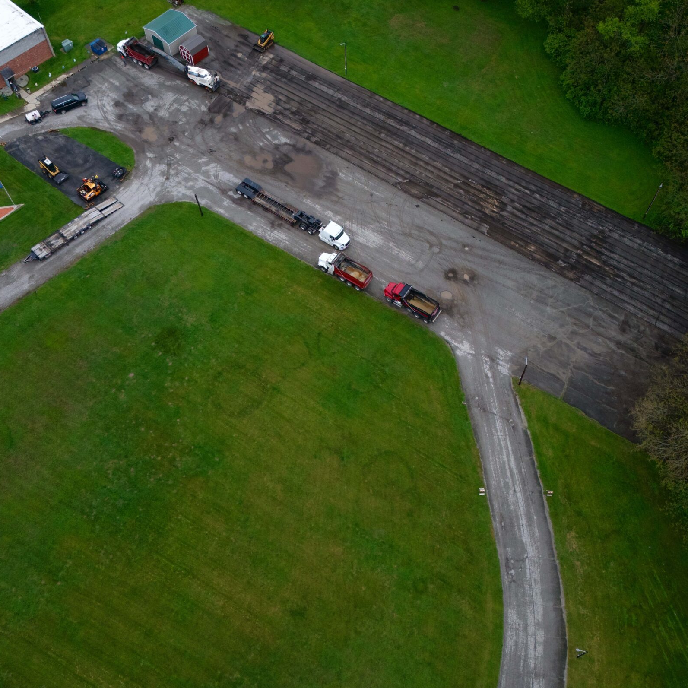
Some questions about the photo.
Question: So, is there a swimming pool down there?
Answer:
No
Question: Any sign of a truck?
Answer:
Yes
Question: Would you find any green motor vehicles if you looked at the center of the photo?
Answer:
No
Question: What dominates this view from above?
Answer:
grass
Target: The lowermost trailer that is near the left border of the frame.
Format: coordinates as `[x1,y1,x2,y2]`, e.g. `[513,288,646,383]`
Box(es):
[26,193,122,264]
